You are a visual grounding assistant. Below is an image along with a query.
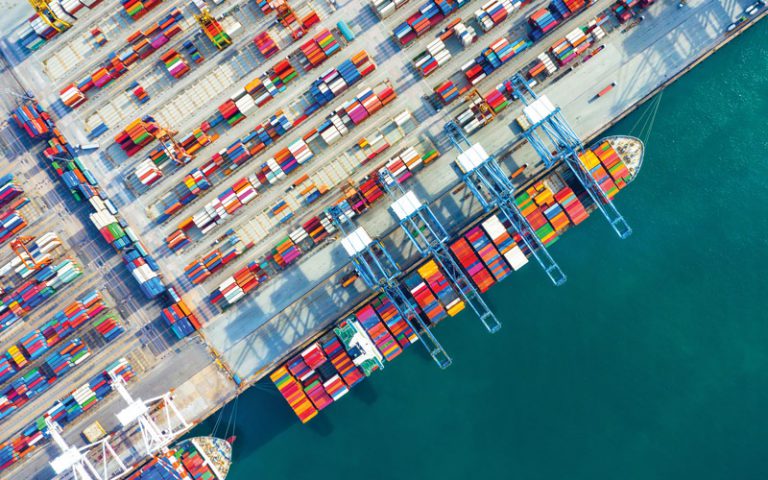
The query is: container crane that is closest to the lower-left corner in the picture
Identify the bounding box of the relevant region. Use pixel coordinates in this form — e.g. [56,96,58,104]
[35,424,130,480]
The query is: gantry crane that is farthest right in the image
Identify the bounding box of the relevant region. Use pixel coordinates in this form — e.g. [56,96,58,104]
[508,70,634,236]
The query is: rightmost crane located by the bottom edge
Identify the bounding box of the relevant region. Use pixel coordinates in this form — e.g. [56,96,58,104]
[104,375,193,480]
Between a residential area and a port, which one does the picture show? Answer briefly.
port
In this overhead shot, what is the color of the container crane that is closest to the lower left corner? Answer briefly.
white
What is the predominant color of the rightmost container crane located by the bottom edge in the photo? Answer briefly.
white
